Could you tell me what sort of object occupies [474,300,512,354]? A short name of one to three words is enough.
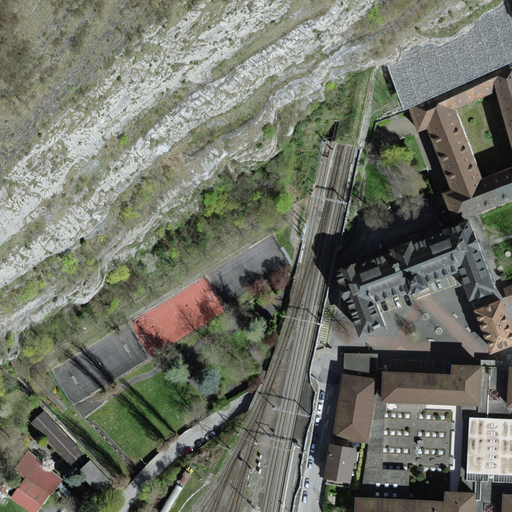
house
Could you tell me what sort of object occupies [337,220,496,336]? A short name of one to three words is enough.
building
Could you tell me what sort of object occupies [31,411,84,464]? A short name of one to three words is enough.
shed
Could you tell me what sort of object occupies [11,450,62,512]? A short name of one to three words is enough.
house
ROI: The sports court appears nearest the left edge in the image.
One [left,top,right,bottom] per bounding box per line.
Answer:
[52,324,148,404]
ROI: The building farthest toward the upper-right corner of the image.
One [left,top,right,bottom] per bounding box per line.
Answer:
[388,2,512,109]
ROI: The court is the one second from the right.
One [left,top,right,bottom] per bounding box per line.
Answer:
[132,278,225,356]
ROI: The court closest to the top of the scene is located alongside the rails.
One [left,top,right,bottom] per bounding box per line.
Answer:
[206,235,289,309]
